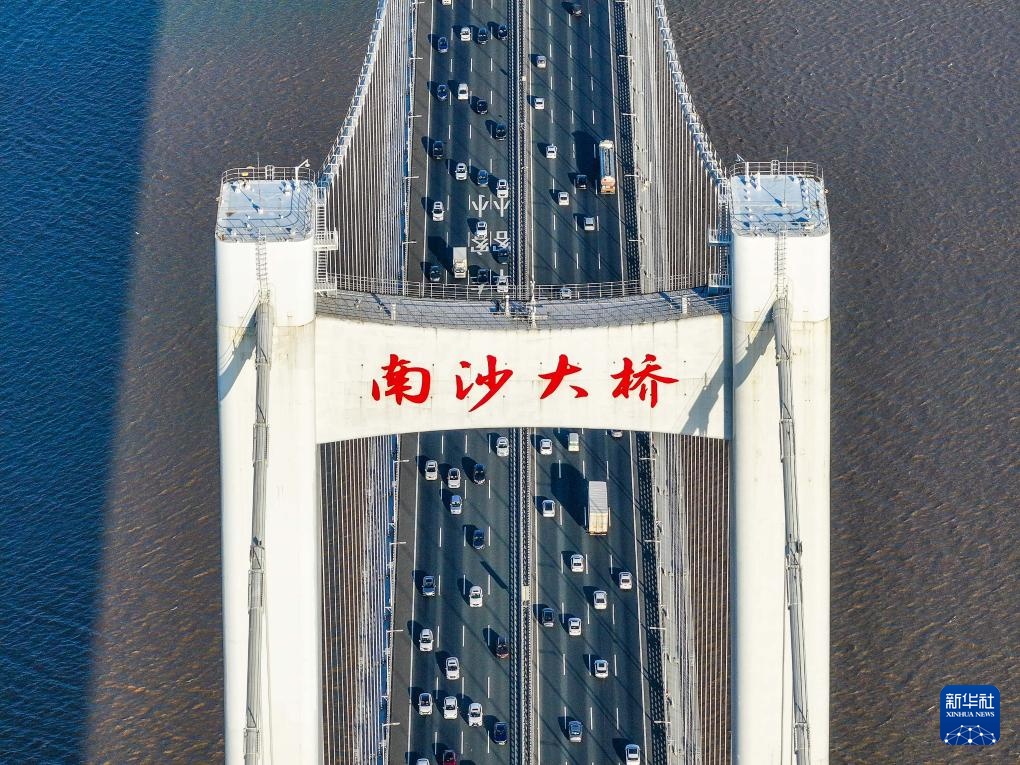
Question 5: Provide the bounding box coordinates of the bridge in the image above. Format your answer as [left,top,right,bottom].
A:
[215,0,831,765]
